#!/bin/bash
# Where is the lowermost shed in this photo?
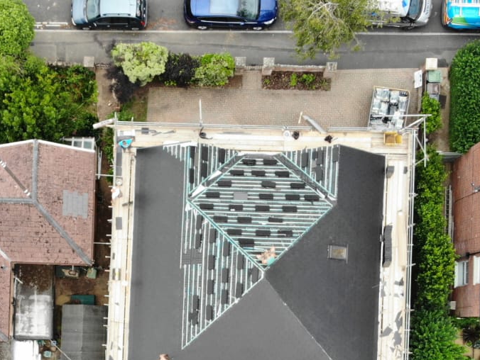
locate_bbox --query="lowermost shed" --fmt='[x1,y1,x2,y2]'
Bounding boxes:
[61,305,106,360]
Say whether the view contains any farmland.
No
